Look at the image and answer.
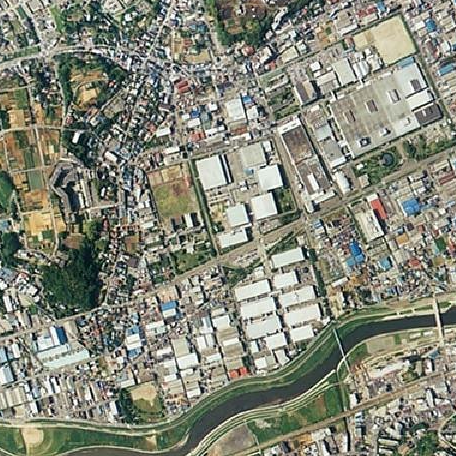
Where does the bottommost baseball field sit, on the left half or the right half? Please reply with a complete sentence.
The bottommost baseball field is on the left side of the image.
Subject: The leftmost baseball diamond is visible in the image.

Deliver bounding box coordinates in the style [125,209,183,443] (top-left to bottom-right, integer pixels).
[13,427,56,456]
